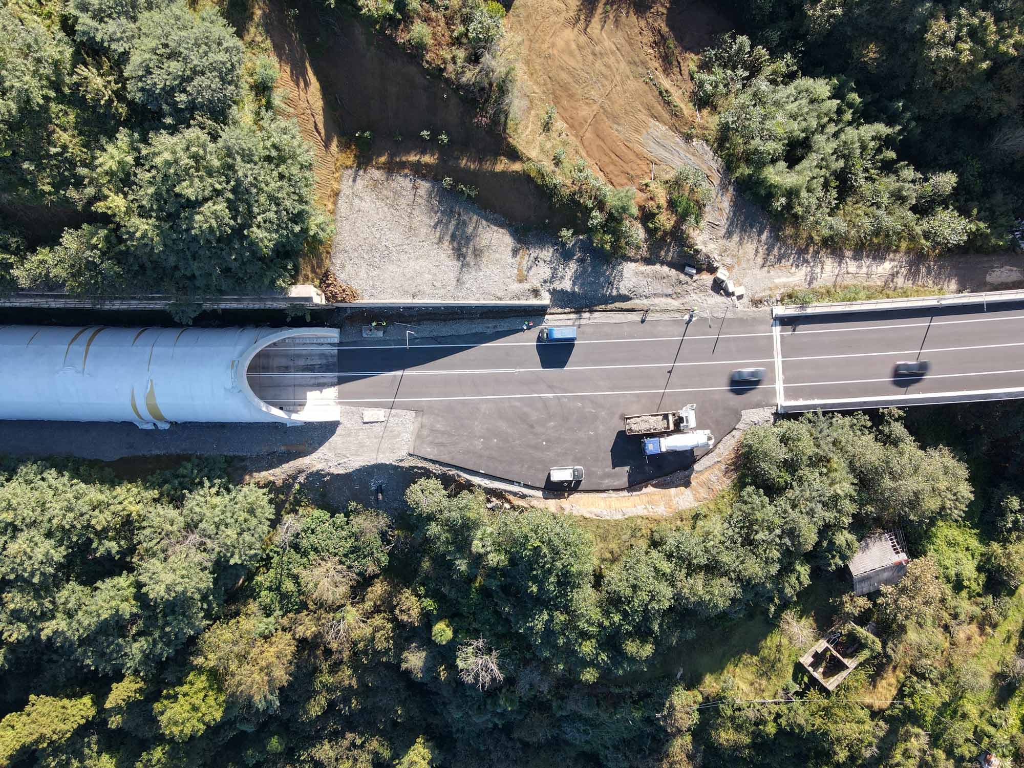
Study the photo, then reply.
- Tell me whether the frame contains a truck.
Yes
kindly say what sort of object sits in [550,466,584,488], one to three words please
vehicle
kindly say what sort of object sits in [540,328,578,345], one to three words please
vehicle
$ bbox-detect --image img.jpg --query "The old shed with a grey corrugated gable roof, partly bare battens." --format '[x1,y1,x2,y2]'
[838,521,911,594]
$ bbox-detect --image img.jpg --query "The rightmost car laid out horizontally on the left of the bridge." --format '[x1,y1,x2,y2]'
[731,367,763,383]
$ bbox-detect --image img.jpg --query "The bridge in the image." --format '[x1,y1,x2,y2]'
[767,289,1024,414]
